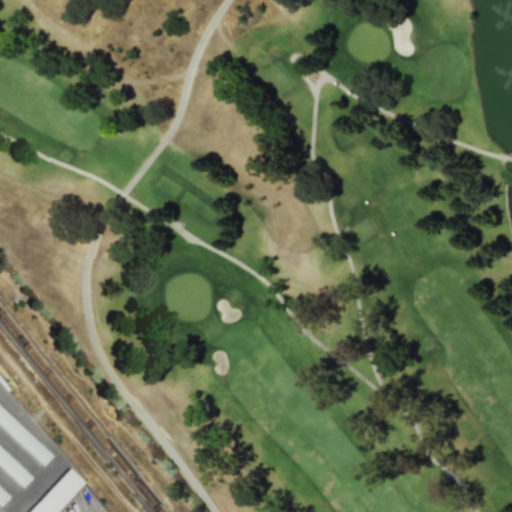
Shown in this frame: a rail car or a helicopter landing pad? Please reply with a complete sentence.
I can see a rail car in this picture.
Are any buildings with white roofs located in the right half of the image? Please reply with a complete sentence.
No, I can find no building with a white roof in the right half of the image.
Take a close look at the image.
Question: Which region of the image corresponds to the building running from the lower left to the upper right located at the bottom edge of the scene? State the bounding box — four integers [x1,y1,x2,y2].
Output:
[34,469,86,512]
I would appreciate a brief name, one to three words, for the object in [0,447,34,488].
building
